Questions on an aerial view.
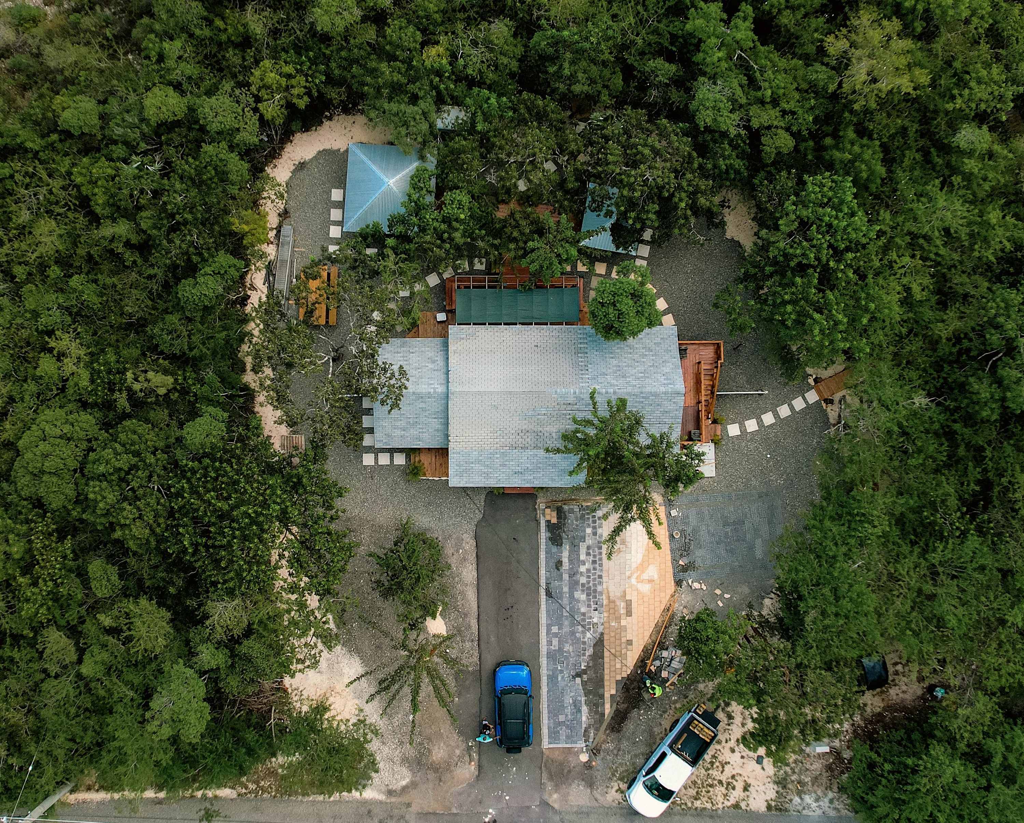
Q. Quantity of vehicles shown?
2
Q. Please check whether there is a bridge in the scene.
Yes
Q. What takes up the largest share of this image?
trees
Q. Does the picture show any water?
No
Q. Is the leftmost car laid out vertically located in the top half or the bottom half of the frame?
bottom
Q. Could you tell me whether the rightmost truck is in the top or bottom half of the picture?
bottom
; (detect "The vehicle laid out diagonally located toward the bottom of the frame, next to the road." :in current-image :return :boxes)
[631,704,720,817]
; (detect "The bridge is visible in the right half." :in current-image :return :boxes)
[801,360,874,407]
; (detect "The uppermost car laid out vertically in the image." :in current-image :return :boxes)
[490,658,536,756]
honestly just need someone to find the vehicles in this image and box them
[631,704,720,817]
[490,658,536,756]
